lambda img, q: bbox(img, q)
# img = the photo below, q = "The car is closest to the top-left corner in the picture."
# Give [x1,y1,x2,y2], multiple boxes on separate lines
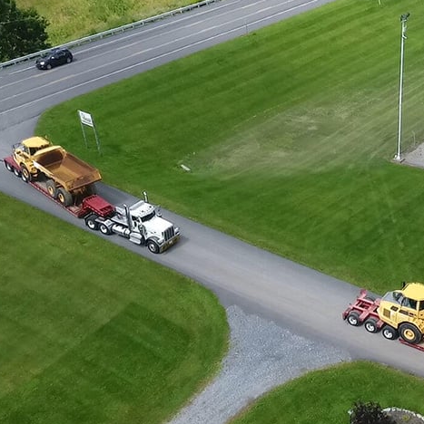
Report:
[34,46,73,68]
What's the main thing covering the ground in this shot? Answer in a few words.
grass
